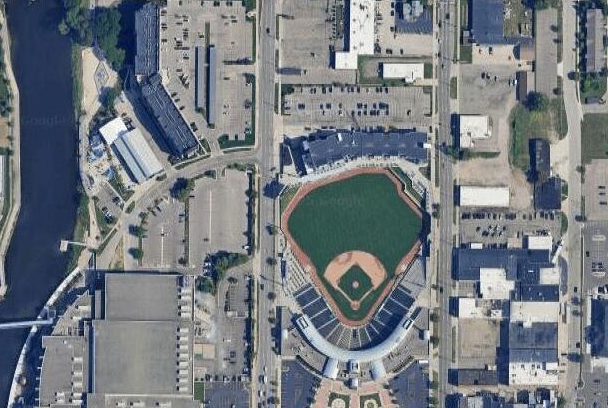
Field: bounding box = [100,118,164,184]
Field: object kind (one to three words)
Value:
building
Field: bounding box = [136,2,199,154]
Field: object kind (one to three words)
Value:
building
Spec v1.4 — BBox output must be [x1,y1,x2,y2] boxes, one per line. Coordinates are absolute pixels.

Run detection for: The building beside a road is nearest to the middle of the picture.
[304,131,431,174]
